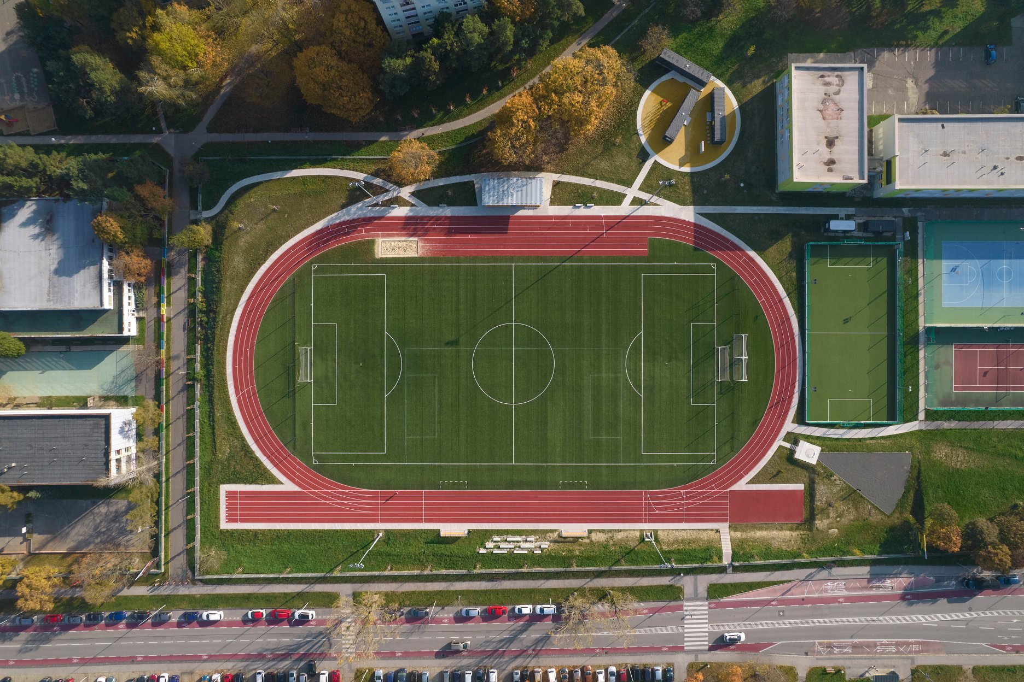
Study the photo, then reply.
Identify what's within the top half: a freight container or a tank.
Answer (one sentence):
Visible within the top half is a freight container.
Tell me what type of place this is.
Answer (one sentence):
It's a sports ground.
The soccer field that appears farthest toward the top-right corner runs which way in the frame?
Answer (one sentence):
In this picture, the soccer field that appears farthest toward the top-right corner is oriented vertically.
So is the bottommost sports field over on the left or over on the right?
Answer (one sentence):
The bottommost sports field is on the right side of the image.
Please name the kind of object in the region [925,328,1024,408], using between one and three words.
tennis court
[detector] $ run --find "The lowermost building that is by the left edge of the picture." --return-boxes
[0,409,136,484]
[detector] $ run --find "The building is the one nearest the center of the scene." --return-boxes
[482,178,543,211]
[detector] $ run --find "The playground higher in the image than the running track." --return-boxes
[637,70,740,172]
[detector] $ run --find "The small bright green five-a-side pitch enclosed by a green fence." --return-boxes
[809,244,896,423]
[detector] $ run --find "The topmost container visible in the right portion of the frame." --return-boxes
[657,48,712,88]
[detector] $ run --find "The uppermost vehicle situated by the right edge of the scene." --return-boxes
[984,43,996,65]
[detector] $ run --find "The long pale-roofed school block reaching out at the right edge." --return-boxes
[874,115,1024,198]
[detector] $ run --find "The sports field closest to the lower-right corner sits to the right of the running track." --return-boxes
[817,452,911,516]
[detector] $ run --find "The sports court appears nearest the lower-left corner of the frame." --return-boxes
[0,351,135,396]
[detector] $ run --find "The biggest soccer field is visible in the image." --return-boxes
[254,237,775,490]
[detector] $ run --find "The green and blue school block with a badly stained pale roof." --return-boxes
[775,63,867,191]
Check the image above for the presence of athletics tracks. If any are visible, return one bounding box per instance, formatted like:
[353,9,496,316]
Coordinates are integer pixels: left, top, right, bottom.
[220,207,804,529]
